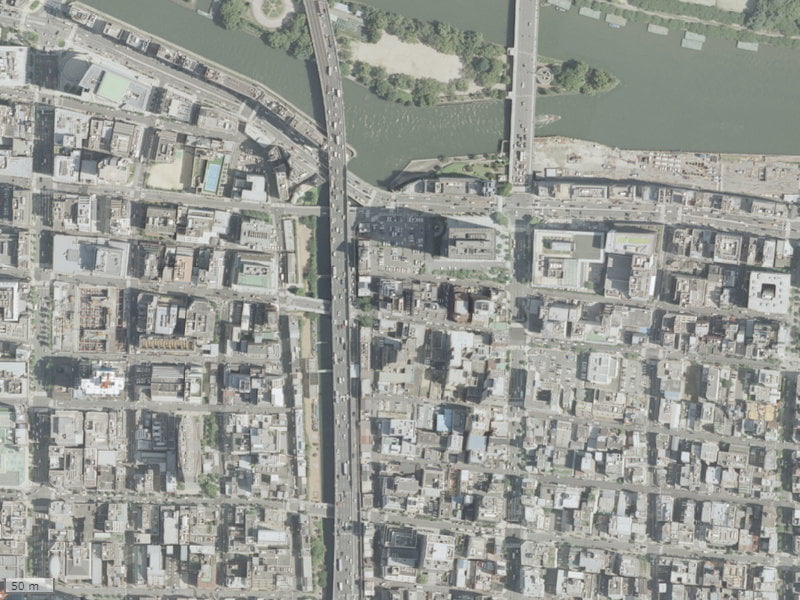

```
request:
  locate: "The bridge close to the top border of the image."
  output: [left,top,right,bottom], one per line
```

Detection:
[506,0,539,187]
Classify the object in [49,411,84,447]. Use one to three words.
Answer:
building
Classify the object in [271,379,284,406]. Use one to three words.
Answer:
building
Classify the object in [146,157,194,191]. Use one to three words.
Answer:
sports field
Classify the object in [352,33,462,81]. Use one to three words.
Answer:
sports field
